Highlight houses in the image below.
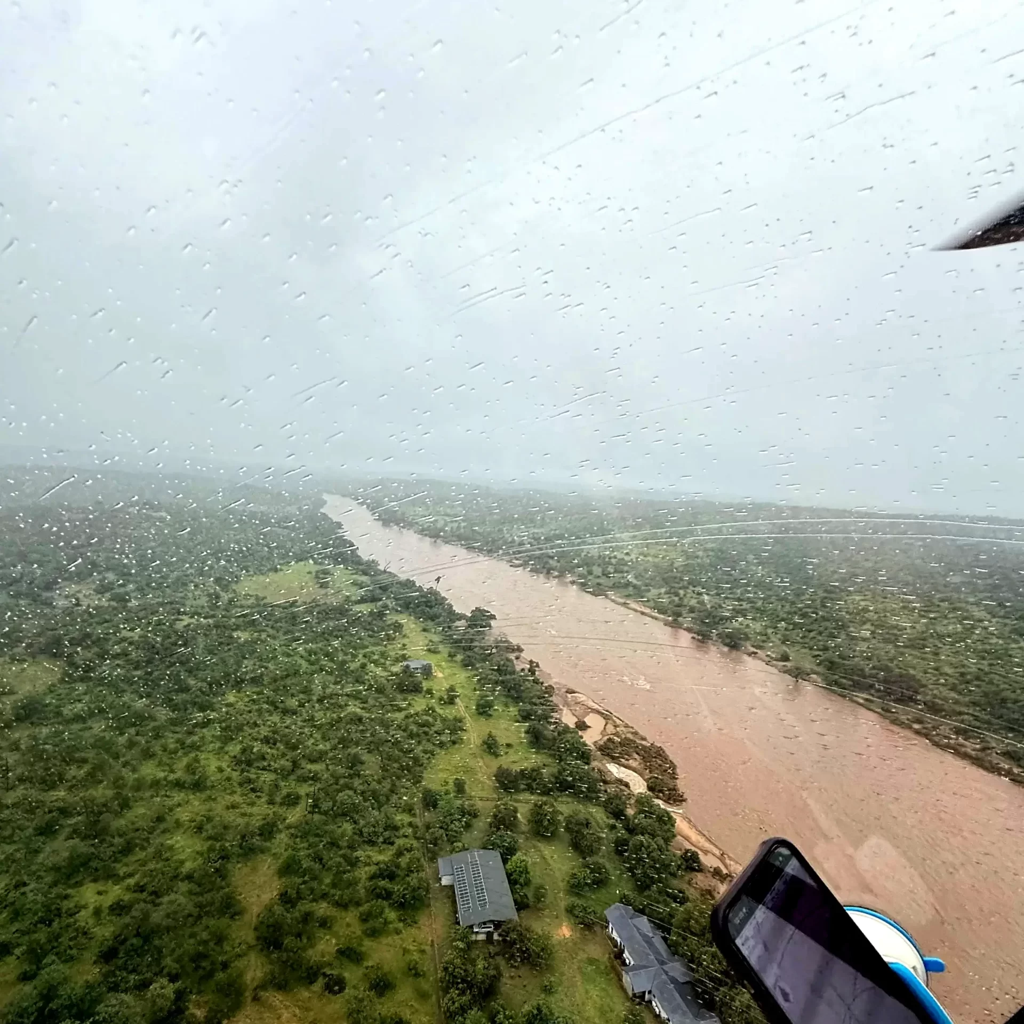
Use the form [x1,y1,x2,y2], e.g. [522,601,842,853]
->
[404,662,432,673]
[597,902,729,1024]
[432,845,518,935]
